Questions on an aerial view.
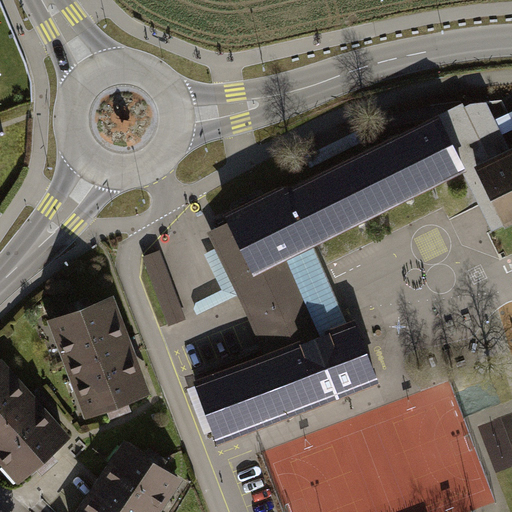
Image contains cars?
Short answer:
Yes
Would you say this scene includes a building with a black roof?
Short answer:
Yes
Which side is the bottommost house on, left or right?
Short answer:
left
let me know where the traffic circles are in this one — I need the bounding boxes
[53,46,196,191]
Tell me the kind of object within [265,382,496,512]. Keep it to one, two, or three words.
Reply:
sports court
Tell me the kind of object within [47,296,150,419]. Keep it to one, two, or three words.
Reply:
house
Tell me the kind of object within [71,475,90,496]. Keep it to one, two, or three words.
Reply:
car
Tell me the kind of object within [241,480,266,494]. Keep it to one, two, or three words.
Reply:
car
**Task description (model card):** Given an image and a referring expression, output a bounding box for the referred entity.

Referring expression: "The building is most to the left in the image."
[0,358,70,486]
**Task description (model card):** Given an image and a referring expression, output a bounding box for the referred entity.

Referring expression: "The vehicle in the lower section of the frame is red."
[251,490,272,504]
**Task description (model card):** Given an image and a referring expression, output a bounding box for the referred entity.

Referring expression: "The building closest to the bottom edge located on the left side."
[72,440,192,512]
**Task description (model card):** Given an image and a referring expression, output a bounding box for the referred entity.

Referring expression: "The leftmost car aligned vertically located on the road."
[54,43,68,69]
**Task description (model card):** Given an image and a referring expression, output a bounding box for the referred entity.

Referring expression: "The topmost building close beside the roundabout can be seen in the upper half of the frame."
[224,111,468,276]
